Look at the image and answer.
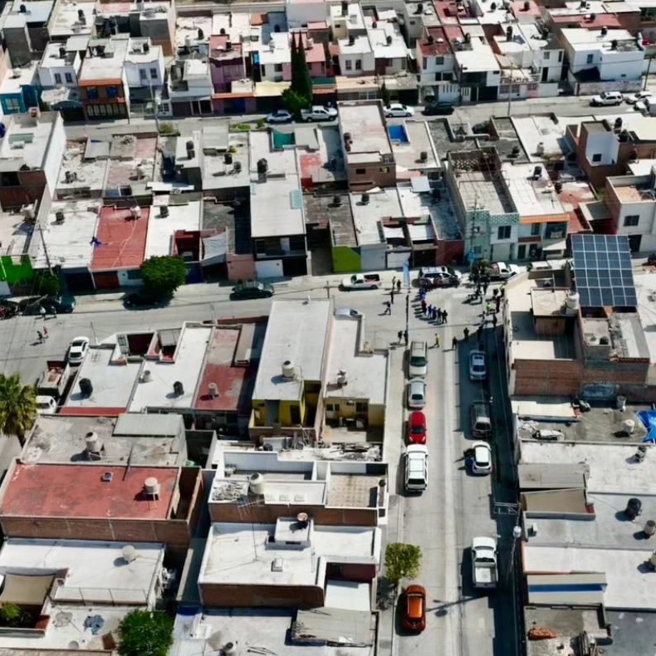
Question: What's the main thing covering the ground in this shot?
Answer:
buildings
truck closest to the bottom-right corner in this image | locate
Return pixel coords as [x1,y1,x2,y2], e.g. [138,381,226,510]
[470,536,497,592]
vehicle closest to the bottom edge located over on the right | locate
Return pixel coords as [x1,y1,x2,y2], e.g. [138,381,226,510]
[402,586,426,634]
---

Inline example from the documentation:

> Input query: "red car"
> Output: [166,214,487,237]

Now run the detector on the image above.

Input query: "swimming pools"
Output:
[389,131,404,144]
